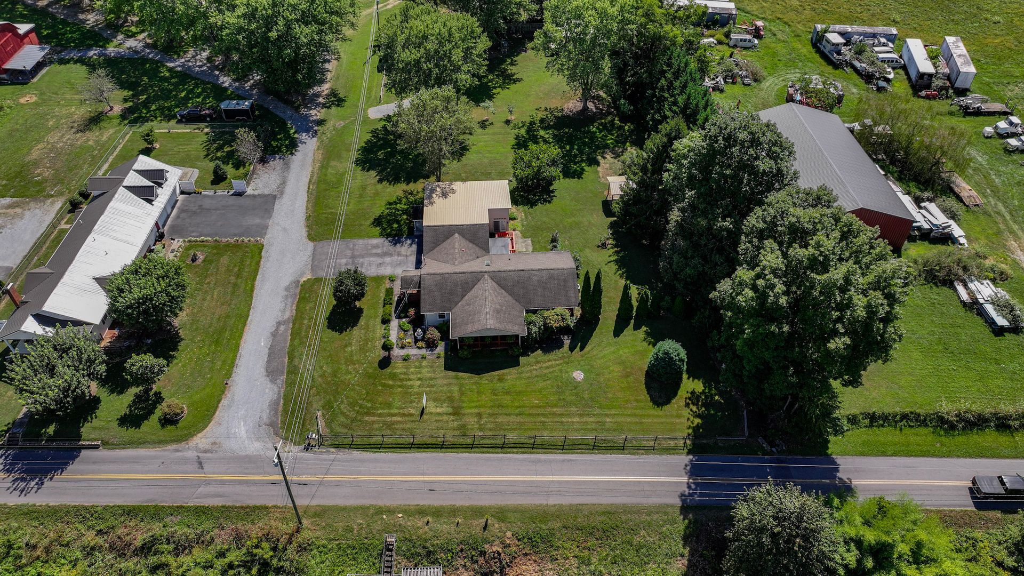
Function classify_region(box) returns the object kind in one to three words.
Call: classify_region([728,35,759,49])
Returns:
vehicle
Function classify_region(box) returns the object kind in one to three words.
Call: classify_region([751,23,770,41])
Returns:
work vehicle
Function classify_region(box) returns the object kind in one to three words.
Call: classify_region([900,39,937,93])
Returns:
trailer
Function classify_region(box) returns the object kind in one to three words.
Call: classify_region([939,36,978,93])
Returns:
trailer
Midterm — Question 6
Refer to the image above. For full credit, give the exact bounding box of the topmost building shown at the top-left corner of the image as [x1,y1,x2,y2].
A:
[0,22,56,95]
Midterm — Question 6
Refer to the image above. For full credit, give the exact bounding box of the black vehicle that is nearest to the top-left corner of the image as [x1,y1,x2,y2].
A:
[179,106,220,121]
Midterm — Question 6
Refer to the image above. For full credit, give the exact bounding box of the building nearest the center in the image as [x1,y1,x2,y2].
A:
[401,180,578,354]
